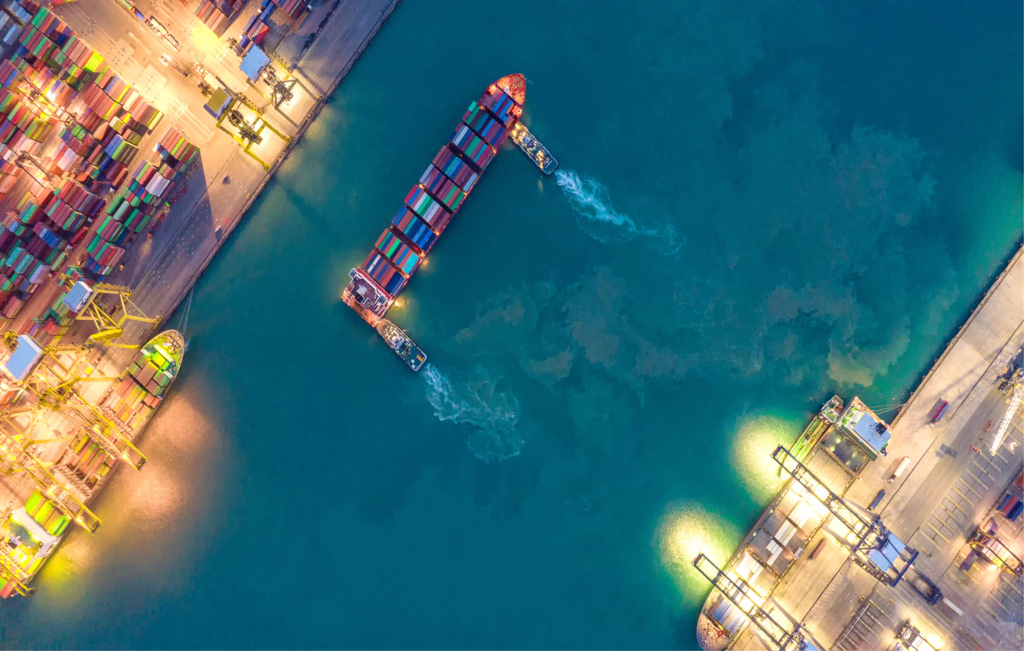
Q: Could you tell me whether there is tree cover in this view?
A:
No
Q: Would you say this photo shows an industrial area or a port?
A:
port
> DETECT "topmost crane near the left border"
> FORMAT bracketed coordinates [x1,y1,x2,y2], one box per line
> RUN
[14,74,82,124]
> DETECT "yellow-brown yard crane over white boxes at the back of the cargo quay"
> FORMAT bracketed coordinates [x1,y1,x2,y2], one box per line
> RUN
[956,521,1024,577]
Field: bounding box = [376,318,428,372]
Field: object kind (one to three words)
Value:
boat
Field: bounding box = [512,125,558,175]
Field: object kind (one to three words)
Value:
boat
